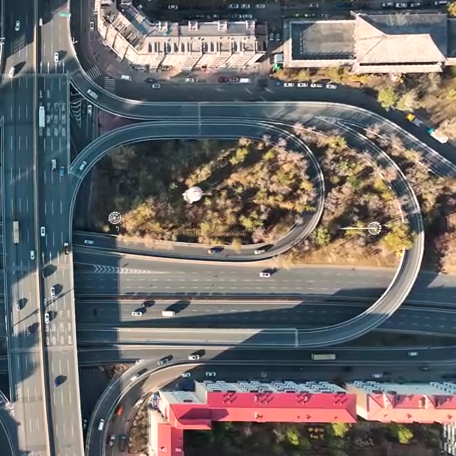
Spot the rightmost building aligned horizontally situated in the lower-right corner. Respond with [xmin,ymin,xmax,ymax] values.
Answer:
[335,377,456,423]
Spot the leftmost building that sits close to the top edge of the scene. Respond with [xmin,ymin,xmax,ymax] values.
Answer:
[87,0,269,71]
